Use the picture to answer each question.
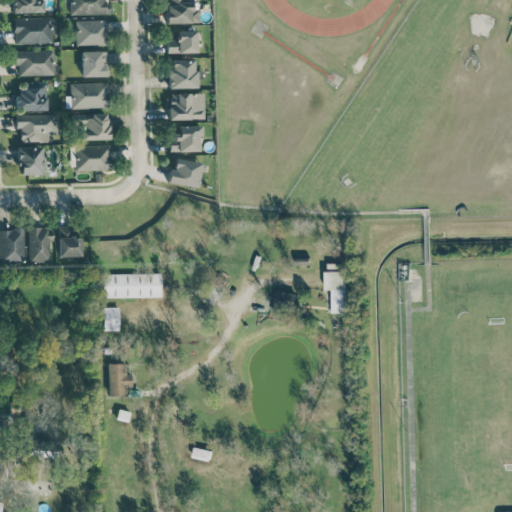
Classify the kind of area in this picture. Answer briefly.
sports ground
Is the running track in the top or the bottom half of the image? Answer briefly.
top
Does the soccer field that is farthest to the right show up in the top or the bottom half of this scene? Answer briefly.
bottom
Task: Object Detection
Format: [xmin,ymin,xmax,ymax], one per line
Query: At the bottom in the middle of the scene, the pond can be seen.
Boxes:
[250,337,310,432]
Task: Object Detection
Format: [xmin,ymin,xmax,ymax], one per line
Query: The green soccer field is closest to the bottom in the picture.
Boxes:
[416,264,512,512]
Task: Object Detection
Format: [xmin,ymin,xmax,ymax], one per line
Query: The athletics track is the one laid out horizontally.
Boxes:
[264,0,394,36]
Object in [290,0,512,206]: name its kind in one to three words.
sports field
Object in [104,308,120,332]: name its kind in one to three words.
shed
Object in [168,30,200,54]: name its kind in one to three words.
house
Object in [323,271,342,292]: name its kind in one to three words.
barn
